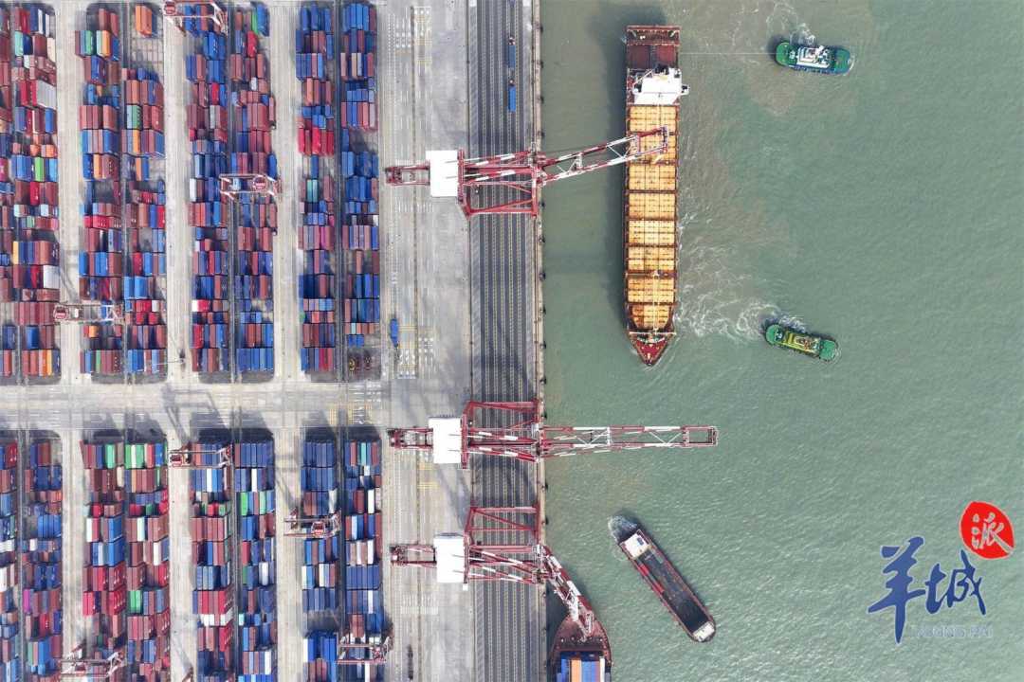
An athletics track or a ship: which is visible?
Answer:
ship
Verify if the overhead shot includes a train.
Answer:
No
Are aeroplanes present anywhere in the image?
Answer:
No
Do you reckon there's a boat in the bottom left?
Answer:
No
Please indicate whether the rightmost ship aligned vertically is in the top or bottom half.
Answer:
top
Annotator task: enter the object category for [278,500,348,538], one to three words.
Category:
crane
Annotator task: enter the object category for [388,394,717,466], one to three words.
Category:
container crane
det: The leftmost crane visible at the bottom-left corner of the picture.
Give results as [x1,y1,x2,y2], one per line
[51,630,132,676]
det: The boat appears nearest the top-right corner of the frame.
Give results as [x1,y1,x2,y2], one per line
[774,40,852,77]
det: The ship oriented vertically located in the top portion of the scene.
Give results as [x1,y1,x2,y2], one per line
[621,25,687,366]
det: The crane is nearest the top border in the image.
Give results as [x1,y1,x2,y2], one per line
[160,1,236,47]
